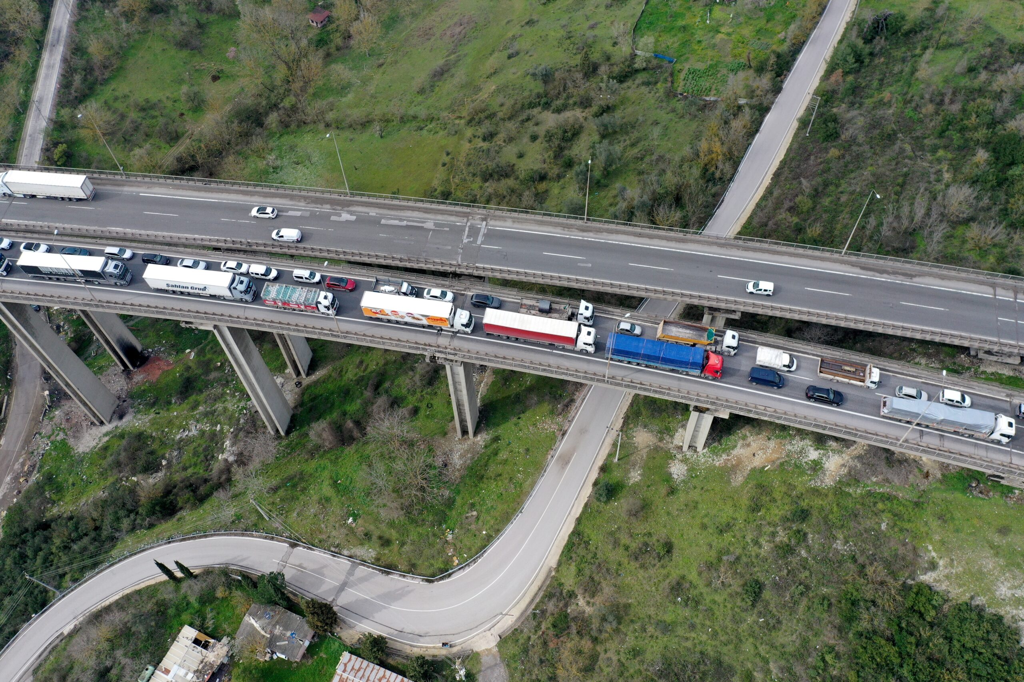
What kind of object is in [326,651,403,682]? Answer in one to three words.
shed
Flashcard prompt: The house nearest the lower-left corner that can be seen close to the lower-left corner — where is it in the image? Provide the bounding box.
[144,626,219,682]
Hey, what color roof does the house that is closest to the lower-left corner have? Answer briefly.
white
